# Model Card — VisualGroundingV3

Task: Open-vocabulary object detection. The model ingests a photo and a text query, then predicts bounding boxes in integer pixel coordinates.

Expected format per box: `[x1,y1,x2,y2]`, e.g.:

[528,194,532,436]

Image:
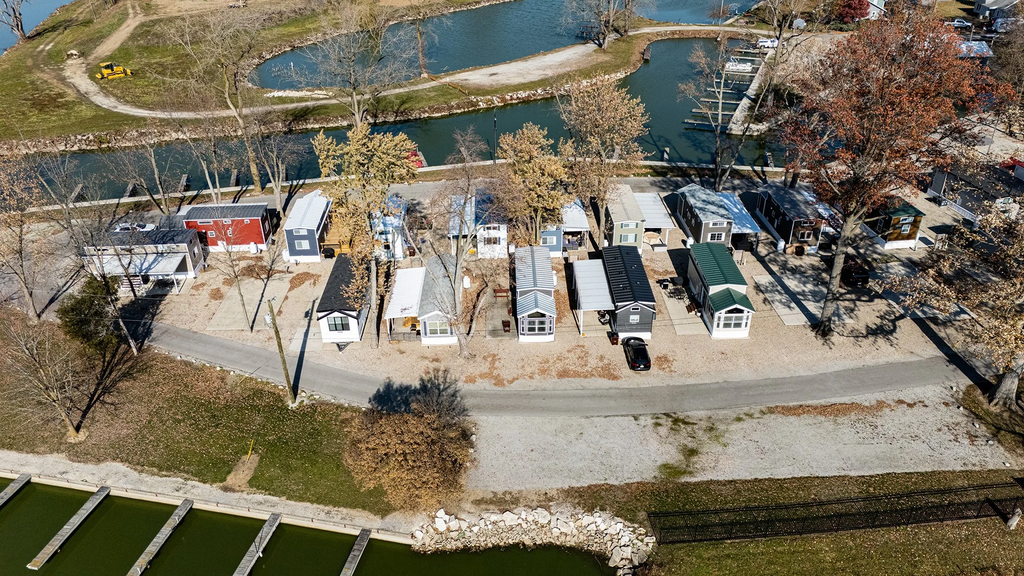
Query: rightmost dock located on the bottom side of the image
[337,535,372,576]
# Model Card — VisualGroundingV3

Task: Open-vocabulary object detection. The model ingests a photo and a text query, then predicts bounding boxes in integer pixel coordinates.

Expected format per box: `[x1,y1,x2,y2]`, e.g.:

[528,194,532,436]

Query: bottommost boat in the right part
[725,58,754,72]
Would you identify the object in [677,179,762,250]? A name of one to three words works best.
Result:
house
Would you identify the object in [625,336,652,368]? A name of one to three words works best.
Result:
car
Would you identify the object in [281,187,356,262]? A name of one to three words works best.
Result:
house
